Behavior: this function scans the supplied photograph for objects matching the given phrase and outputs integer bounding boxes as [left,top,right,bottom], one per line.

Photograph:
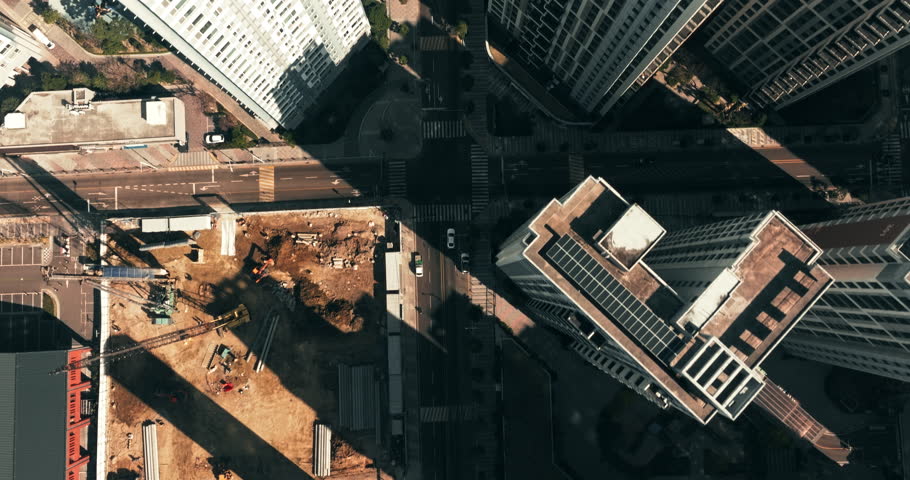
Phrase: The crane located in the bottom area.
[44,300,254,377]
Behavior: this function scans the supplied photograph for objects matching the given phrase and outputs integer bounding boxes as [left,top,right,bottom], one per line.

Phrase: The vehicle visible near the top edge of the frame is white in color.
[25,21,53,52]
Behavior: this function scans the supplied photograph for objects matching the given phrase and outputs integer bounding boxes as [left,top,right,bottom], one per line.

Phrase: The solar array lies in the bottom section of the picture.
[544,234,691,371]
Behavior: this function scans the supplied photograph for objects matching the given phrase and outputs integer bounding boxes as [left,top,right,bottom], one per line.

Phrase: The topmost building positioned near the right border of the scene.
[706,0,910,114]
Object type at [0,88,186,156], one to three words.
building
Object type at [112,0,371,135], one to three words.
building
